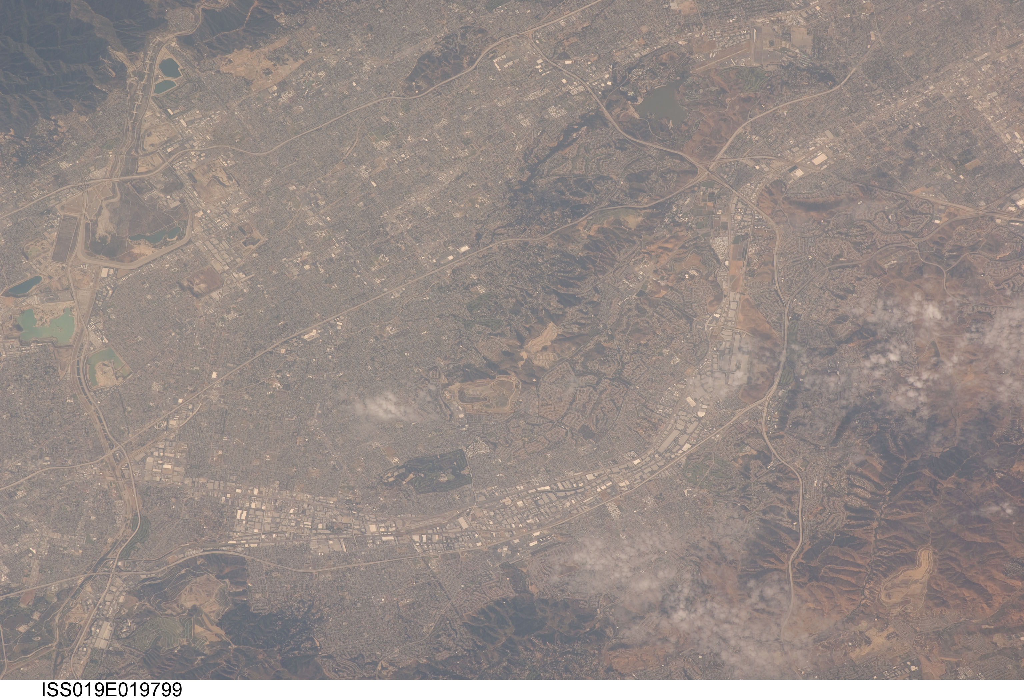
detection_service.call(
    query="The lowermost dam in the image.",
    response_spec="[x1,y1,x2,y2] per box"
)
[78,201,193,268]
